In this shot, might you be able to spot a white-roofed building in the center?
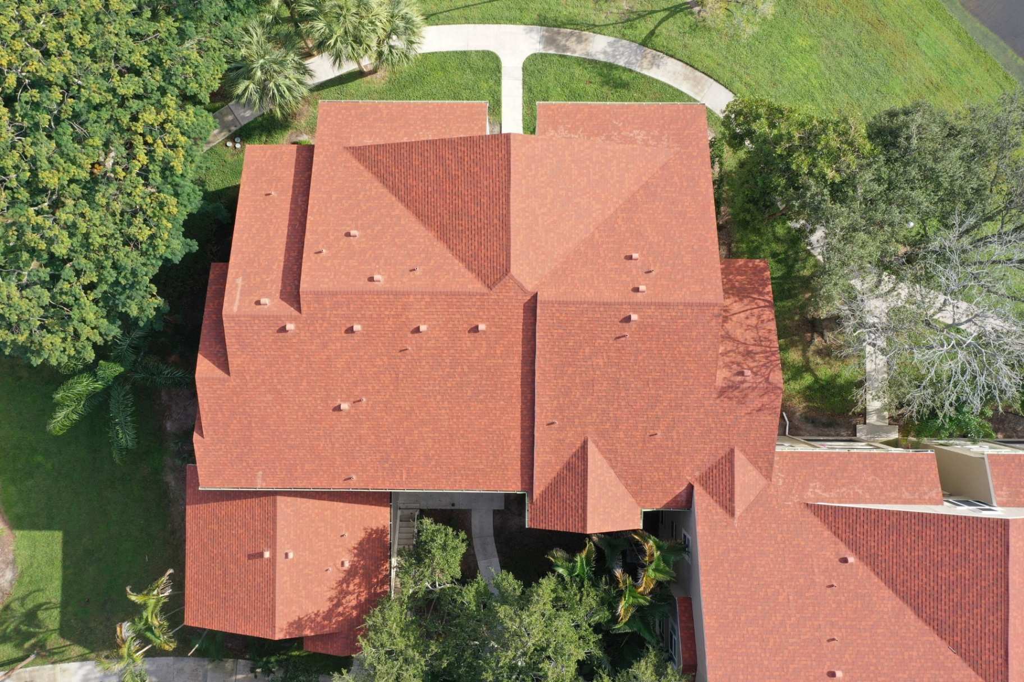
No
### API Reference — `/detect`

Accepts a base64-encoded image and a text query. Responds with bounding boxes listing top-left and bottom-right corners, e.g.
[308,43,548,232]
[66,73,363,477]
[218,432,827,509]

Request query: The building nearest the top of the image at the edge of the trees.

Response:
[193,97,790,533]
